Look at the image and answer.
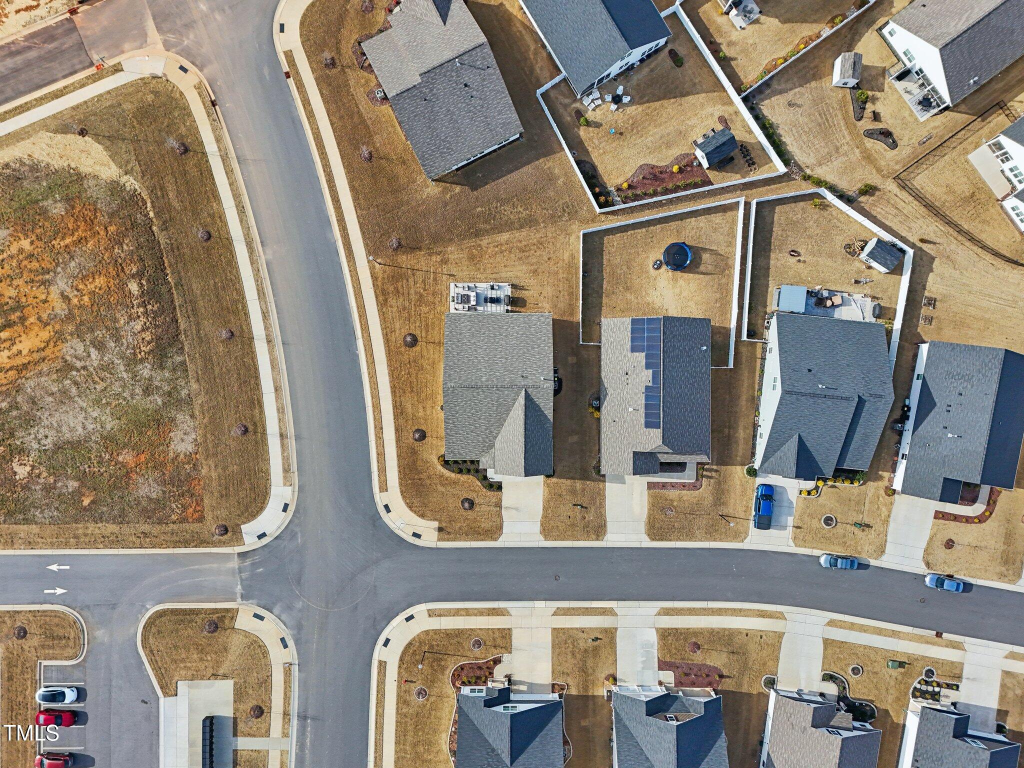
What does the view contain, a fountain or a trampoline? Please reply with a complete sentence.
I can see a trampoline in this picture.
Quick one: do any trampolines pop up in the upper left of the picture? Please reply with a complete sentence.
No, in the upper left of the picture there is no trampoline.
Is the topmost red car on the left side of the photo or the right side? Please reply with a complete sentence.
The topmost red car sits on the left side.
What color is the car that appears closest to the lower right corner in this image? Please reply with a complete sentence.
From above, the car that appears closest to the lower right corner appears blue.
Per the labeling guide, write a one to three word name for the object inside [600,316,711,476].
house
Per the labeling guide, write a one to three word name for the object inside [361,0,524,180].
house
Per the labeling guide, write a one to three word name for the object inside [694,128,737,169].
shed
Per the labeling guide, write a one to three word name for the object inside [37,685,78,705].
car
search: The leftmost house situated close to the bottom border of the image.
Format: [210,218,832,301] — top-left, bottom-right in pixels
[456,679,564,768]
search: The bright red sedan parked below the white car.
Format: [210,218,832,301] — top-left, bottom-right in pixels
[37,708,78,729]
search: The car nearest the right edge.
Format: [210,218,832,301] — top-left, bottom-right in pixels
[923,572,964,593]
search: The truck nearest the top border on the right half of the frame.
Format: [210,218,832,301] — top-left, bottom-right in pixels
[752,483,775,531]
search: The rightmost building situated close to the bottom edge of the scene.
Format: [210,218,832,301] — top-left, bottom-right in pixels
[901,699,1021,768]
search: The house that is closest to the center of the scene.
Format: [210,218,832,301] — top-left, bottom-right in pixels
[442,313,554,477]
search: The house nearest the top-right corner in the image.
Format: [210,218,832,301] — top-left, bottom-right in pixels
[882,0,1024,109]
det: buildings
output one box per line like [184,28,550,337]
[860,238,903,272]
[833,52,863,87]
[901,699,1021,768]
[759,687,882,768]
[987,114,1024,232]
[882,0,1024,109]
[893,341,1024,504]
[442,313,554,477]
[754,312,894,481]
[612,683,729,768]
[456,679,564,768]
[694,128,737,169]
[520,0,672,100]
[600,316,711,476]
[361,0,524,180]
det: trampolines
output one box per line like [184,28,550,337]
[662,241,693,271]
